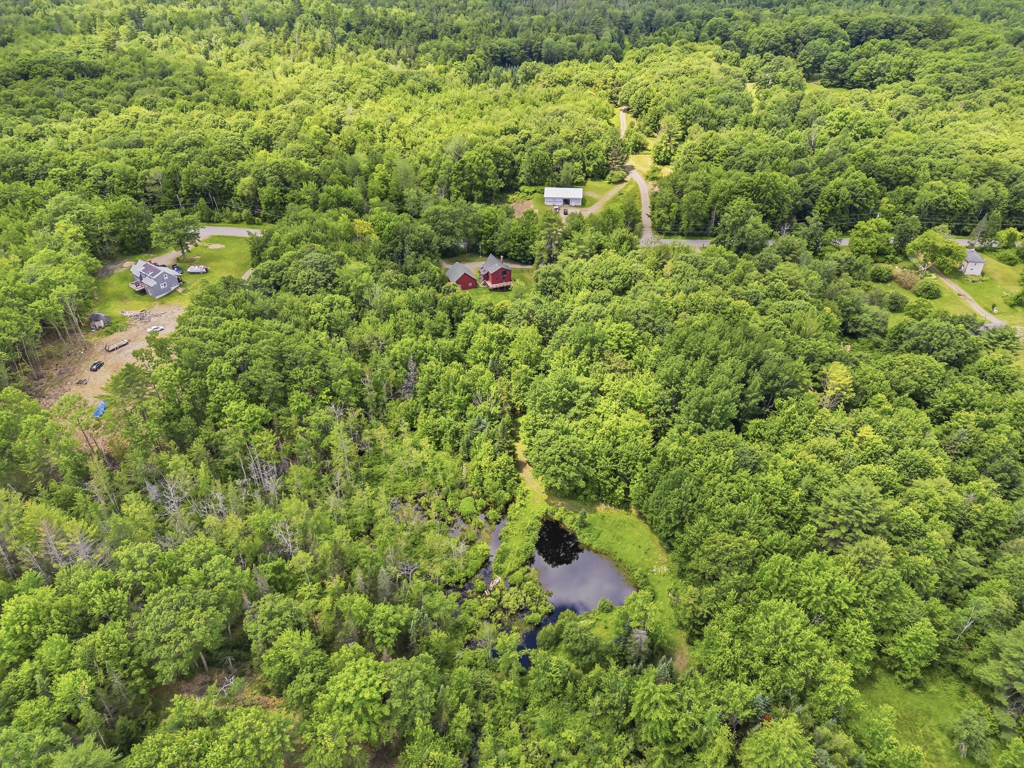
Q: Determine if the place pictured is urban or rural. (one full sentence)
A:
The area shown here is rural.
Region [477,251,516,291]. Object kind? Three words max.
house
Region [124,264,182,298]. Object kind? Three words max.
house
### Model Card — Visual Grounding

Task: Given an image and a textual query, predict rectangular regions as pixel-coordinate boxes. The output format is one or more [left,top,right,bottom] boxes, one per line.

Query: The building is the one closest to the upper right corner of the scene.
[952,249,988,275]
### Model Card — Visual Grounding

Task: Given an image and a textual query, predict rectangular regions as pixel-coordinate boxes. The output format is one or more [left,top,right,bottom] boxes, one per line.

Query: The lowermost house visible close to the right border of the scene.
[983,316,1021,334]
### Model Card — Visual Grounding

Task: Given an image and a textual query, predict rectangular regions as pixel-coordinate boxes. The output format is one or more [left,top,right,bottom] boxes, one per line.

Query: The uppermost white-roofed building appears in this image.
[544,187,583,205]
